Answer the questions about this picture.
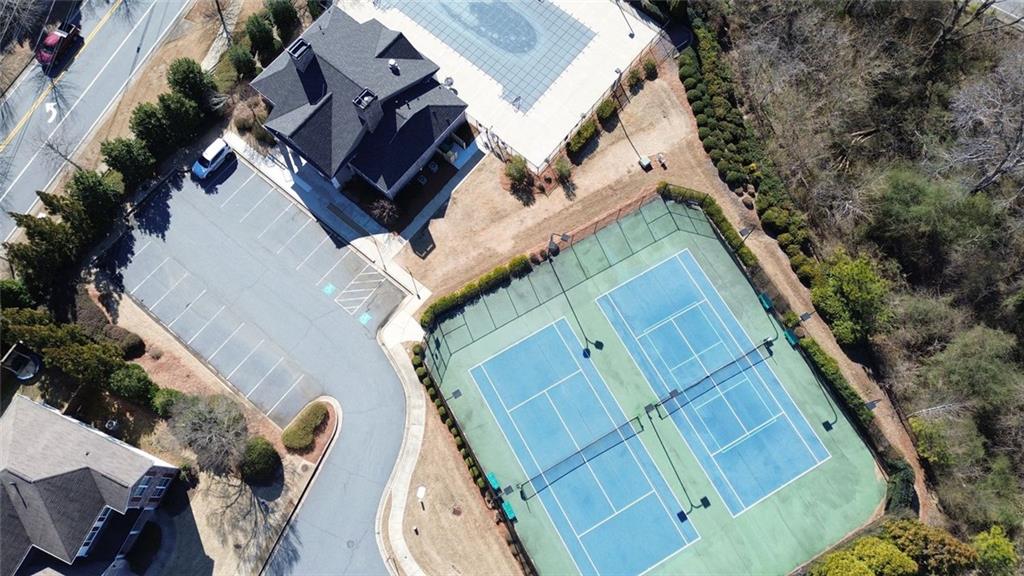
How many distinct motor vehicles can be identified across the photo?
two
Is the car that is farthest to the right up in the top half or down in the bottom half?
top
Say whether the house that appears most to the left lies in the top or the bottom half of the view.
bottom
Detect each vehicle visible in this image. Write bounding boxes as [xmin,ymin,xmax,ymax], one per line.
[191,138,231,174]
[33,13,80,58]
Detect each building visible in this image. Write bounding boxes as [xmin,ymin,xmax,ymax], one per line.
[0,393,175,576]
[250,3,468,199]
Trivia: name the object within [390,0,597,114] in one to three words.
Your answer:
swimming pool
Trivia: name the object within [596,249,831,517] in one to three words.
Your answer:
tennis court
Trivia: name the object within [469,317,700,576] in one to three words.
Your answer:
tennis court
